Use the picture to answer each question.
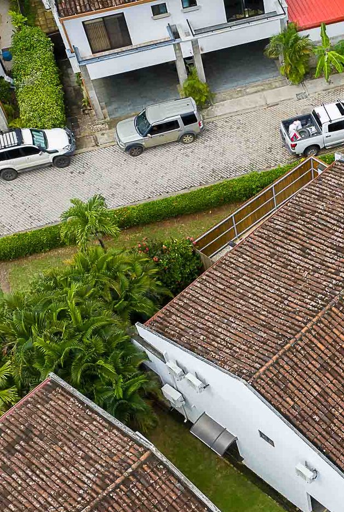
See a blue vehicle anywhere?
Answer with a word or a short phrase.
No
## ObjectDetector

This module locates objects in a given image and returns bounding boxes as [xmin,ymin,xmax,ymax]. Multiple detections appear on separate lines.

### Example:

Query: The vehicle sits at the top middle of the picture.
[111,93,205,158]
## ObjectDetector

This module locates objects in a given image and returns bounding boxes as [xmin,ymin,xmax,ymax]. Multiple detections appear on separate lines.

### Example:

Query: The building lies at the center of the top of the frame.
[53,0,288,115]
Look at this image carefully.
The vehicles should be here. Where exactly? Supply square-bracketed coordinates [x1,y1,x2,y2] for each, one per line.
[278,95,344,155]
[111,93,205,158]
[0,125,79,183]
